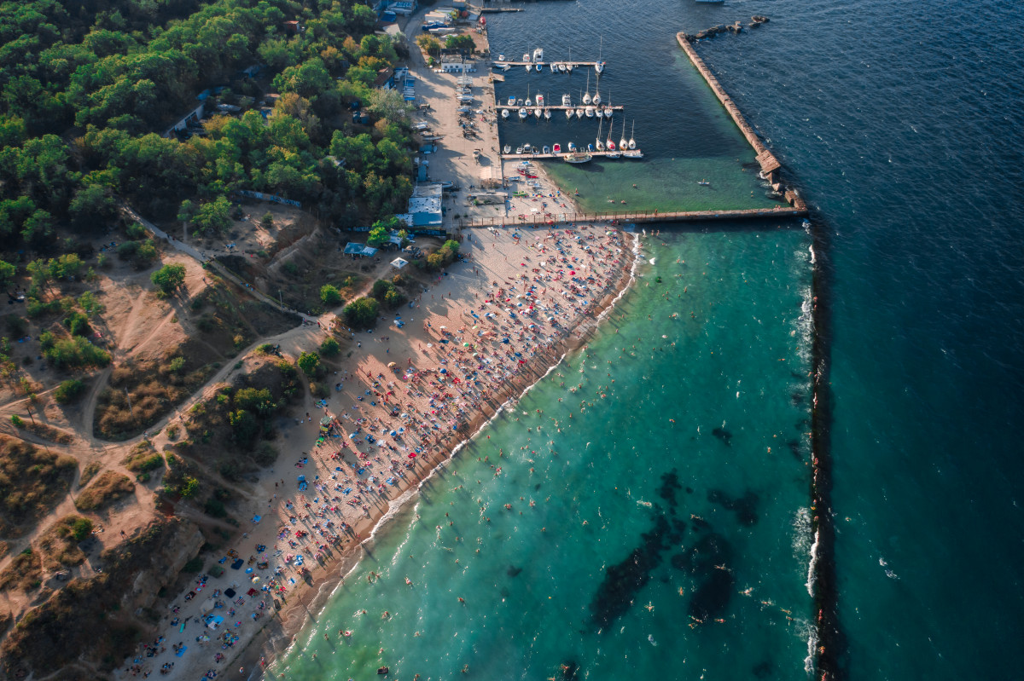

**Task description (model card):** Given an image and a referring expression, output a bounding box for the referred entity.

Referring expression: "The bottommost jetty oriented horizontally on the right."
[453,207,809,225]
